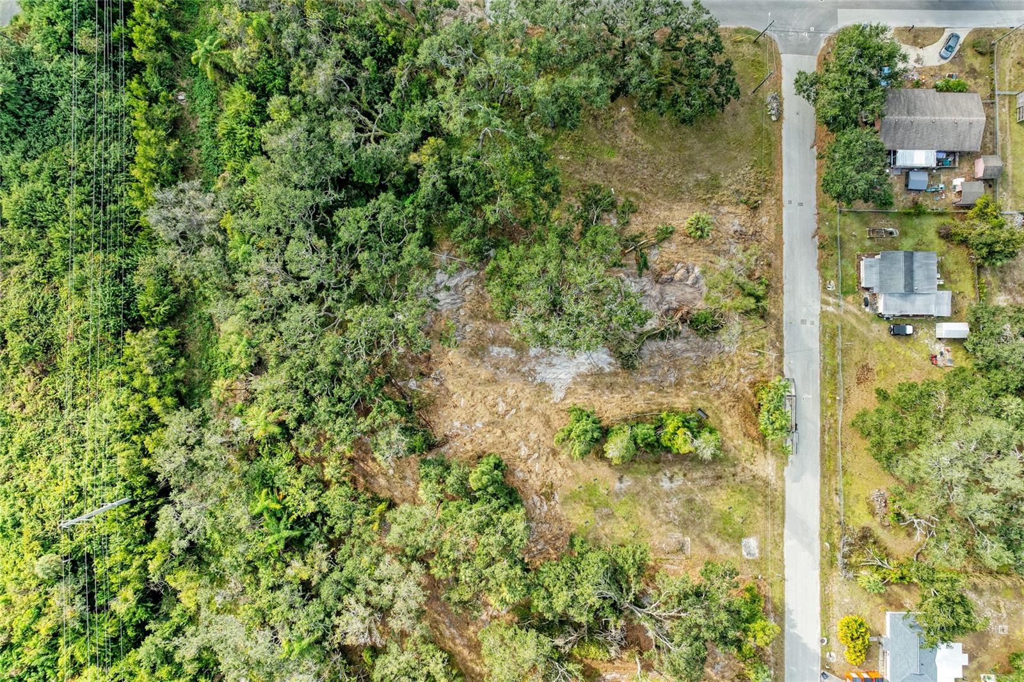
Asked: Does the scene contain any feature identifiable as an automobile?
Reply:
Yes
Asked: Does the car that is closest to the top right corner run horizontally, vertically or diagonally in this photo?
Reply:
diagonally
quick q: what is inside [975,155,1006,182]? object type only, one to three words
shed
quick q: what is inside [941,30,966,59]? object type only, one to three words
car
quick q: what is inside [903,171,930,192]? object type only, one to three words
shed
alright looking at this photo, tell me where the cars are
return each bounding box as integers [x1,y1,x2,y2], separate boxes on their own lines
[892,323,916,336]
[941,30,966,59]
